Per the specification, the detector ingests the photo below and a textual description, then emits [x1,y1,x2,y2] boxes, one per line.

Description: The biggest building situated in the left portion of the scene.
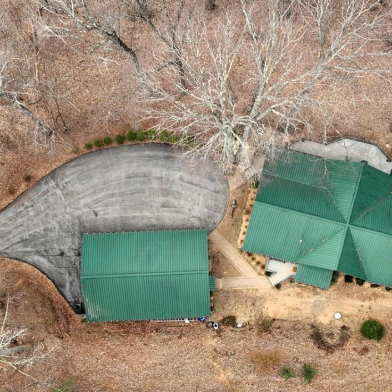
[79,227,216,324]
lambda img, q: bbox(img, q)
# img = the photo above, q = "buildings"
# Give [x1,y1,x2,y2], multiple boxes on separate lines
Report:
[79,227,216,324]
[242,137,392,291]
